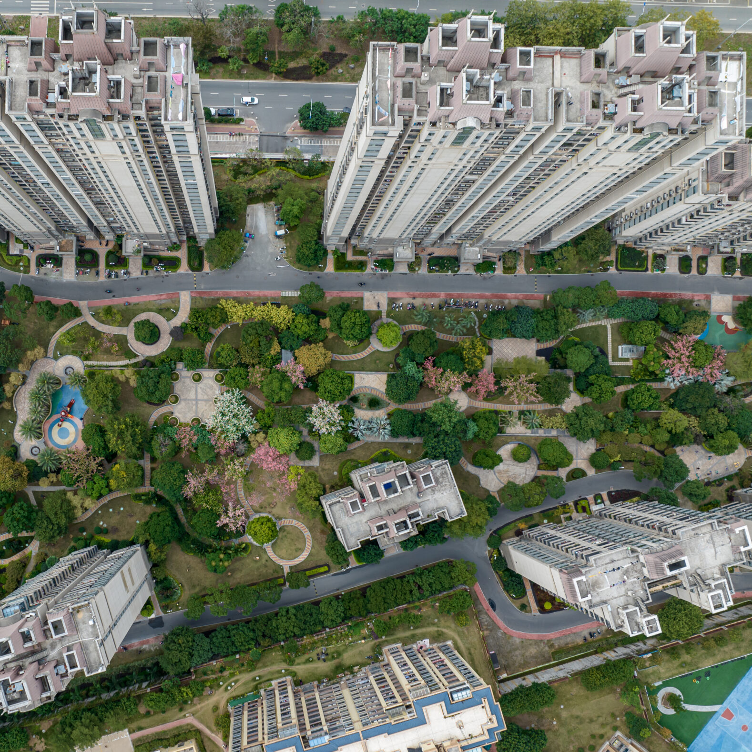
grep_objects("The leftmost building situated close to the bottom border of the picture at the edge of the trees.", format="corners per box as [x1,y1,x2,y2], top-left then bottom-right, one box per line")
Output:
[0,552,156,725]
